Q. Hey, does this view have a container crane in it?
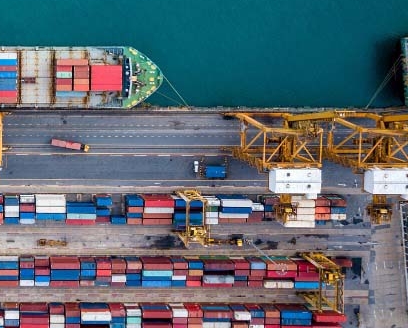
Yes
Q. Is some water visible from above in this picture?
Yes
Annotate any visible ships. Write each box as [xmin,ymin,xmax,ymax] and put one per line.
[0,41,163,111]
[385,39,408,109]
